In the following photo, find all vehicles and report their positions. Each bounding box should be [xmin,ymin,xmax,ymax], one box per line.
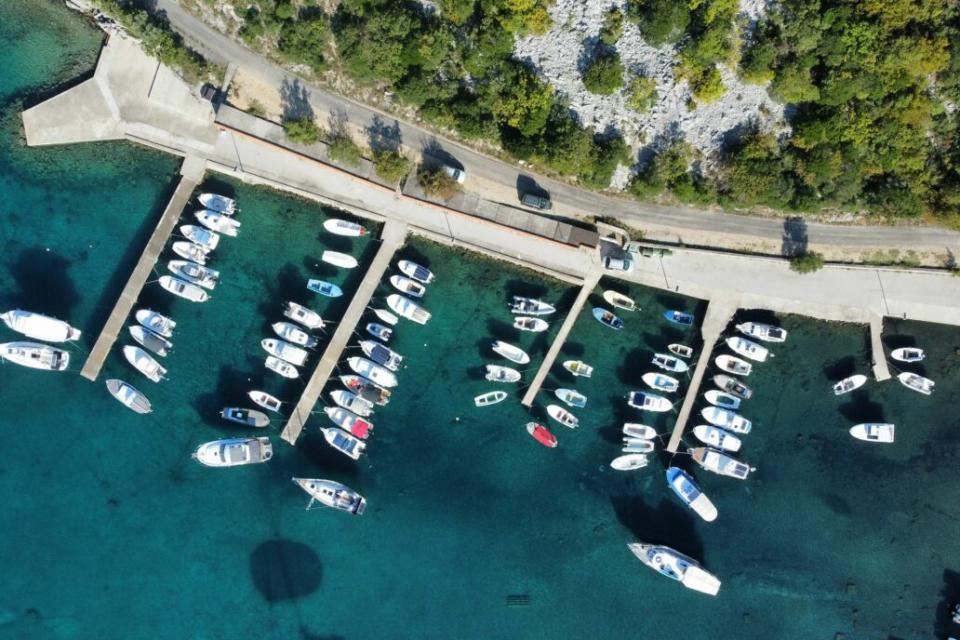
[520,192,553,213]
[437,163,467,186]
[603,257,634,273]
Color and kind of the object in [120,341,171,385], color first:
white boat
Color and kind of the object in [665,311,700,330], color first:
blue boat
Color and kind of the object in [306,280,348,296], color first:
blue boat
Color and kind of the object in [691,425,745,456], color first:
white boat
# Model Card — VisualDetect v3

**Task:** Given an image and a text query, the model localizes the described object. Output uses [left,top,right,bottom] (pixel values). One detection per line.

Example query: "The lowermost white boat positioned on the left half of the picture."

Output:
[289,479,369,517]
